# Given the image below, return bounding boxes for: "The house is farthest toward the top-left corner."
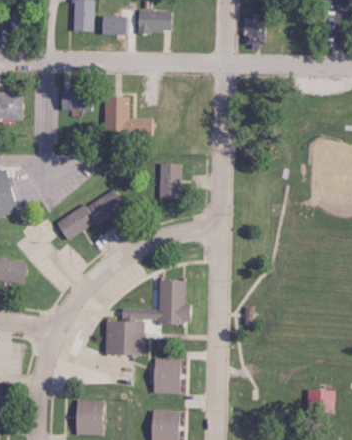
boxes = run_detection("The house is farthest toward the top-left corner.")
[72,0,95,32]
